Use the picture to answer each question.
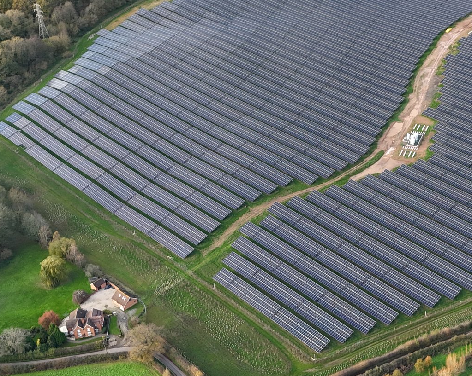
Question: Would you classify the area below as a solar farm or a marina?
solar farm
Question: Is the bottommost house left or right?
left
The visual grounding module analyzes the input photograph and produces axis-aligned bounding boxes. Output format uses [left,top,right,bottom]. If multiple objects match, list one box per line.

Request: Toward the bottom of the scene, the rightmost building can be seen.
[106,286,136,311]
